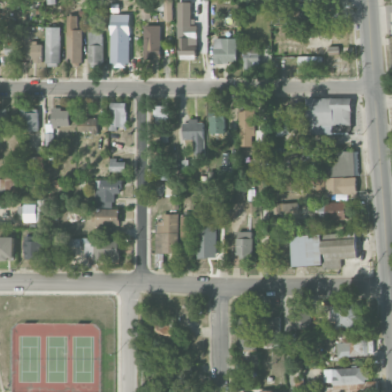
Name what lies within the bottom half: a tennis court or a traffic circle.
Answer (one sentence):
Looking within the bottom half, you will find a tennis court.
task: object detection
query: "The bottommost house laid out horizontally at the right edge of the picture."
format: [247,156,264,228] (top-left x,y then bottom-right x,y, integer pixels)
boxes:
[324,368,377,392]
